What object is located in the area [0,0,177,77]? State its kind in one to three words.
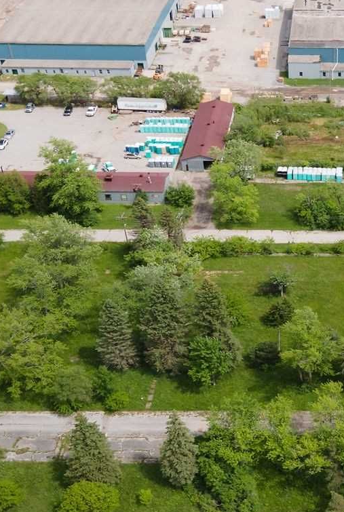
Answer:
building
